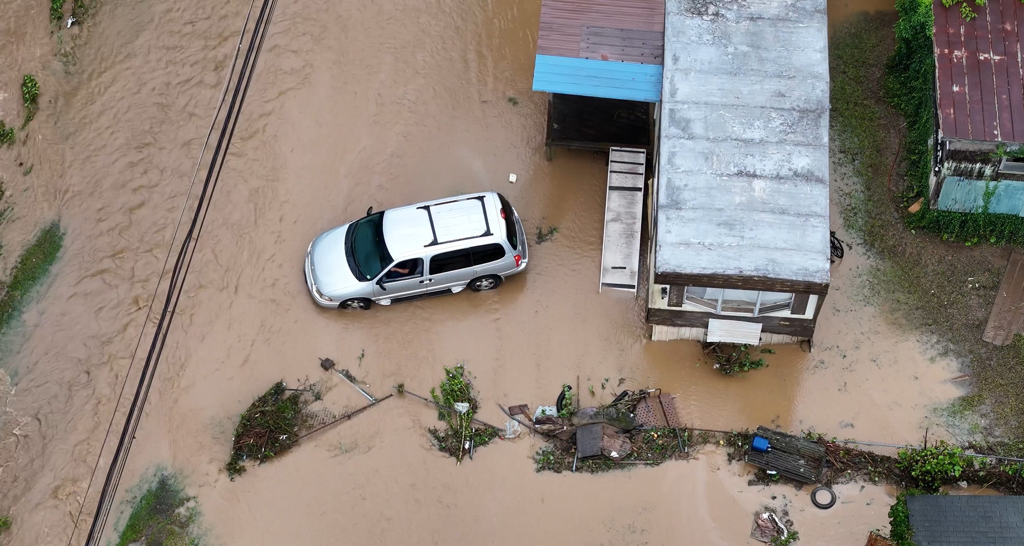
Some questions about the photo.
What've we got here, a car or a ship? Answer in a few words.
car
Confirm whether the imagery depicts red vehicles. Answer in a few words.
No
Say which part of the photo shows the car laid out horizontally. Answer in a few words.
center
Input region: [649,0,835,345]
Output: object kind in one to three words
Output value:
house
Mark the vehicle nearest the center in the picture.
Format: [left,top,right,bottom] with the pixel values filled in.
[303,193,531,309]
